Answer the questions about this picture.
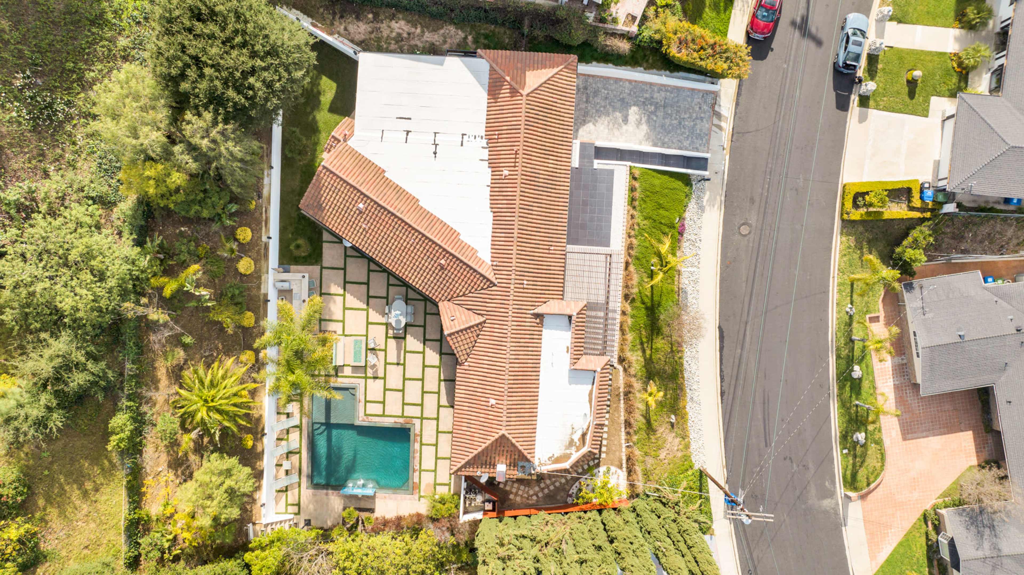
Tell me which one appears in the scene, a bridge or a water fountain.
water fountain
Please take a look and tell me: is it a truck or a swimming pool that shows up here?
swimming pool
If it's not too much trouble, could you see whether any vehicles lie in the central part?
No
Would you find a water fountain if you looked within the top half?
No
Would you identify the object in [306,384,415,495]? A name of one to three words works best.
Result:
swimming pool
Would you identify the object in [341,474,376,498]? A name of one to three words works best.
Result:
fountain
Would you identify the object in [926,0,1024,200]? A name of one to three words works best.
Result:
house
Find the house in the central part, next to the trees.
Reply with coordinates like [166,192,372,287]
[297,48,610,479]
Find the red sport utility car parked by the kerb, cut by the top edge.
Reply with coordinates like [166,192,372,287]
[747,0,780,39]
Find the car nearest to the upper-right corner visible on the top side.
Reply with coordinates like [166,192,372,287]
[837,14,872,73]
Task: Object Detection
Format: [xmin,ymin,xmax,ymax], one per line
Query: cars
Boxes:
[837,14,872,73]
[747,0,780,39]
